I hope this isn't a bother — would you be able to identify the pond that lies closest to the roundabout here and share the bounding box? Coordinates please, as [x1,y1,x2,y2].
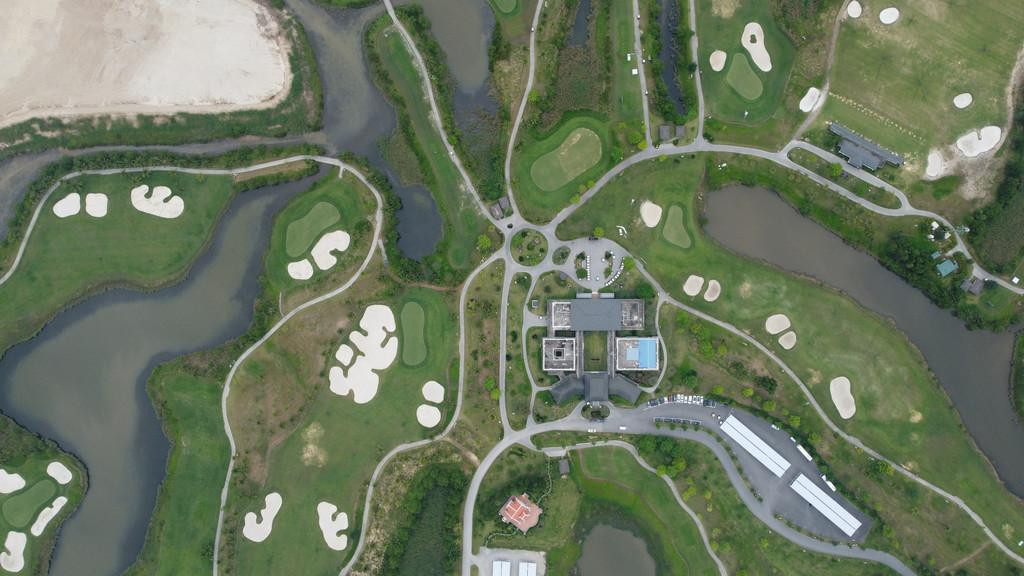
[416,0,496,148]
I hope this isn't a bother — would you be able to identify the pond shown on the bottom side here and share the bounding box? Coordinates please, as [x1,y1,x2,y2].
[578,523,657,576]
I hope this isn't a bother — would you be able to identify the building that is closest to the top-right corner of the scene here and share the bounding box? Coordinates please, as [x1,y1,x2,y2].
[826,122,903,172]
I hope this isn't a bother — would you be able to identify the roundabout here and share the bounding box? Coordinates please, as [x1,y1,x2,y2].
[505,221,555,271]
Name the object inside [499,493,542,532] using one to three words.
house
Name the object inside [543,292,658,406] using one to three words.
building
